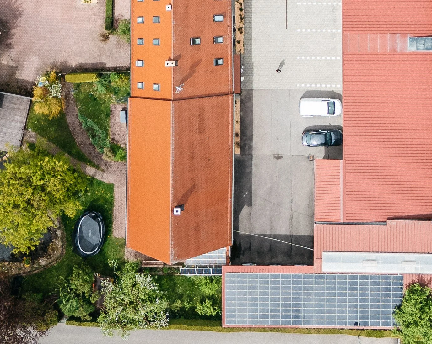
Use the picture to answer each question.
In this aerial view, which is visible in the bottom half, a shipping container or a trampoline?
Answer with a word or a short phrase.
trampoline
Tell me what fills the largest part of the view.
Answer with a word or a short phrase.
buildings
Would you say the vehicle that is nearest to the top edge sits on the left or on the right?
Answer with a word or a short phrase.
right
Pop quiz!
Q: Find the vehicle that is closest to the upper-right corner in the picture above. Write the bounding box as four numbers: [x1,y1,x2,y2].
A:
[299,97,341,117]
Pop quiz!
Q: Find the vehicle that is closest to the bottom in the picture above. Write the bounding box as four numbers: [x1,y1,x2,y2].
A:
[302,129,342,148]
